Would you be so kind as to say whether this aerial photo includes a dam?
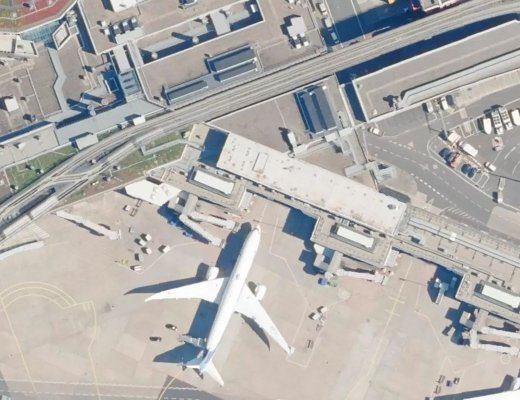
No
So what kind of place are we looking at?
airport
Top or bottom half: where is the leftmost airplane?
bottom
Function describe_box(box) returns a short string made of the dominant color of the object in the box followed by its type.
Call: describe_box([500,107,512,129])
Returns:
white vehicle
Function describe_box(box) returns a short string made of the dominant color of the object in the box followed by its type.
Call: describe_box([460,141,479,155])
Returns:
white vehicle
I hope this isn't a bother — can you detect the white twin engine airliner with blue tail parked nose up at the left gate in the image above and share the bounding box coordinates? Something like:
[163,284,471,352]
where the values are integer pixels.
[146,226,291,385]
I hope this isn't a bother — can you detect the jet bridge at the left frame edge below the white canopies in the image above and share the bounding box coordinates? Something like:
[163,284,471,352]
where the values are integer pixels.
[0,237,50,260]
